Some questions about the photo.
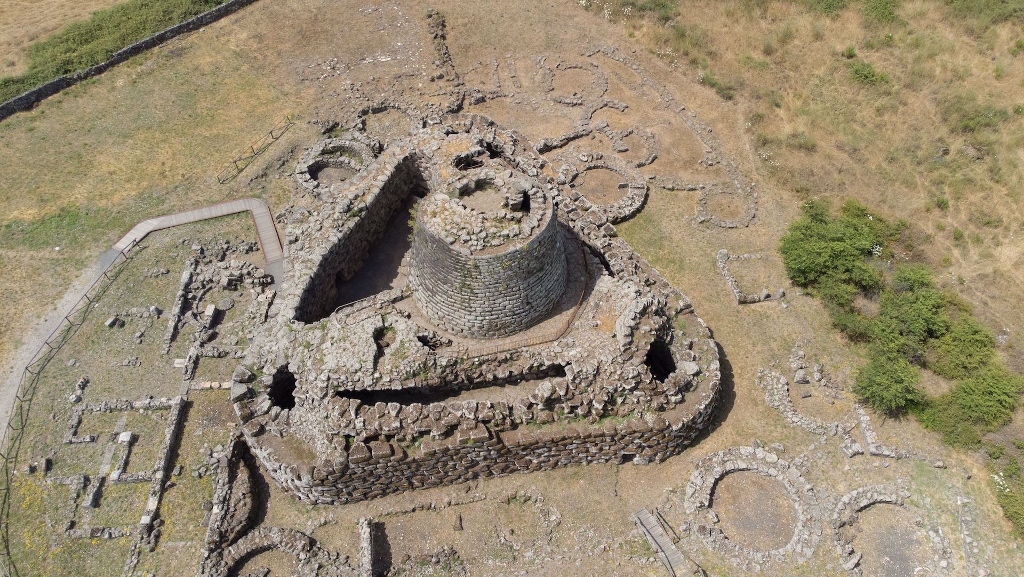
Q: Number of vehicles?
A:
0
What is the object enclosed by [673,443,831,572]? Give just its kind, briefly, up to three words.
shed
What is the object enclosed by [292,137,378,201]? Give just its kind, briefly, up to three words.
shed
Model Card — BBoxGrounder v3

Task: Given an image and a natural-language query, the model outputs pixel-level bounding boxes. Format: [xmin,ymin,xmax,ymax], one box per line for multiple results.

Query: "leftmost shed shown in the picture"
[215,523,325,577]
